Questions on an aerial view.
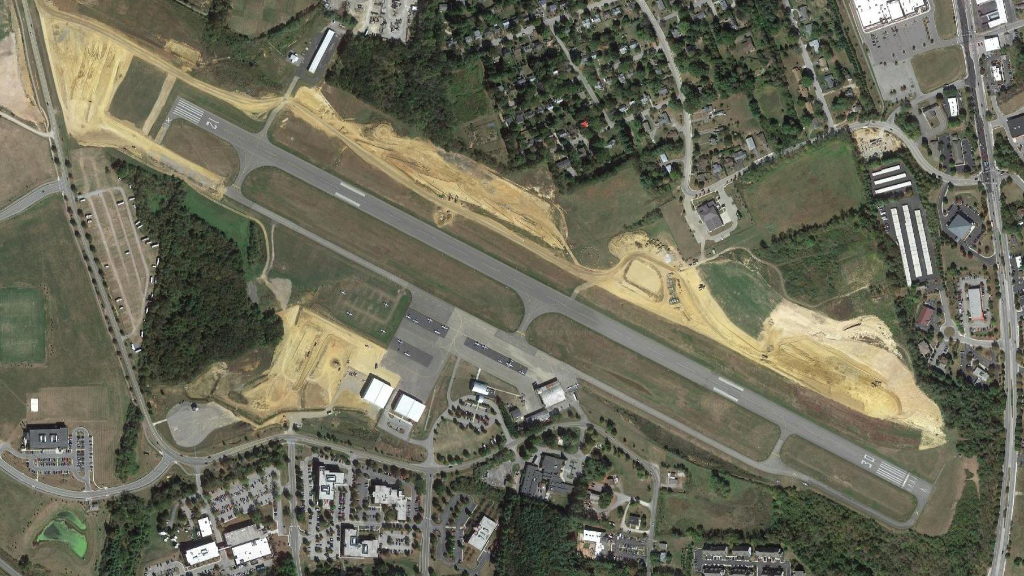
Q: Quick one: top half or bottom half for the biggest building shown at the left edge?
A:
bottom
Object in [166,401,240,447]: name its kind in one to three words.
helipad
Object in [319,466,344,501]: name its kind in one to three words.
building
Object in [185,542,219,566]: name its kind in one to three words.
building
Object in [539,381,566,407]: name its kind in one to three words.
hangar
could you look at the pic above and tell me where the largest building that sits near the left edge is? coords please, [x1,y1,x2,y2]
[29,428,68,449]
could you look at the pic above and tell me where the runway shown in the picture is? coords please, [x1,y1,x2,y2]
[171,97,933,500]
